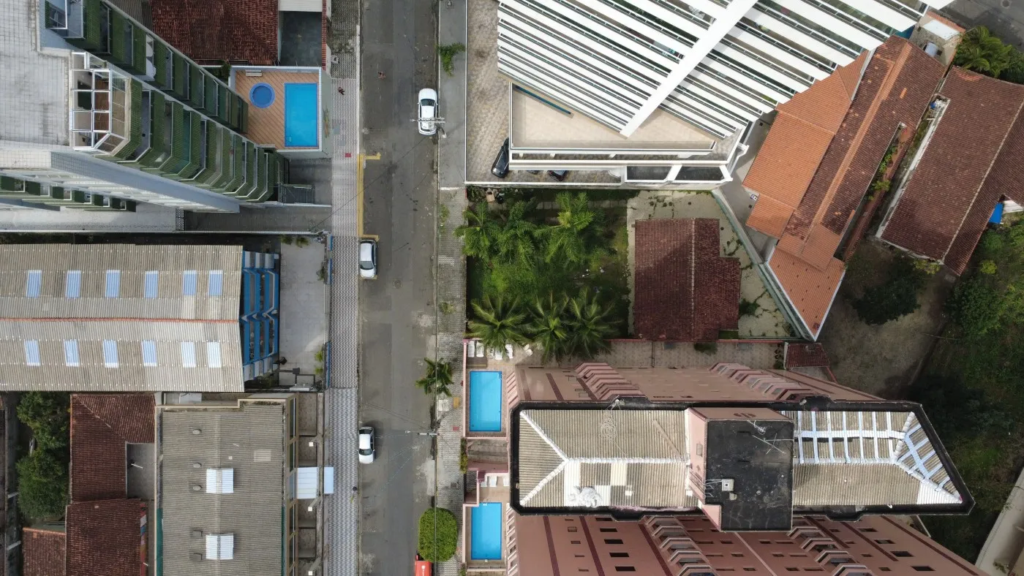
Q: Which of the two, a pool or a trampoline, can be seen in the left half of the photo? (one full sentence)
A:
You can see a pool in the left half of the photo.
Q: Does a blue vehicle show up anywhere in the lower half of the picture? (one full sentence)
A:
No, I can find no blue vehicle in the lower half of the picture.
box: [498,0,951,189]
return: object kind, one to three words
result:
building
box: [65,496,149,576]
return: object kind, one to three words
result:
house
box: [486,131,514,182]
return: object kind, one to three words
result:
car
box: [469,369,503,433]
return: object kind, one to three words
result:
swimming pool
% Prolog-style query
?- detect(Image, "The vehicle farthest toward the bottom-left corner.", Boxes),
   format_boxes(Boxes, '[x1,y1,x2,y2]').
[356,426,377,465]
